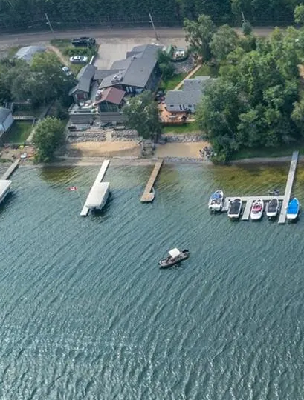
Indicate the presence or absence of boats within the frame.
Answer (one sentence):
Yes, there is a boat in the image.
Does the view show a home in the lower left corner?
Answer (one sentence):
No, there's no home to be seen in the lower left corner.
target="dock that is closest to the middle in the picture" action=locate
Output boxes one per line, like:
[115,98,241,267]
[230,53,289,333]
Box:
[140,158,167,204]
